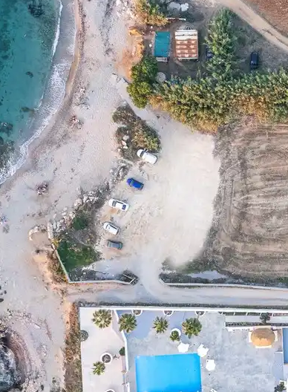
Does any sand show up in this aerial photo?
Yes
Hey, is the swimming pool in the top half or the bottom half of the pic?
bottom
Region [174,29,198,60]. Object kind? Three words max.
shed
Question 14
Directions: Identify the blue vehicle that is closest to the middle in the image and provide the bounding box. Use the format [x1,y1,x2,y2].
[126,177,145,190]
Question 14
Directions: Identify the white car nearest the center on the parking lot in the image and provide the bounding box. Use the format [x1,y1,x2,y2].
[109,199,130,211]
